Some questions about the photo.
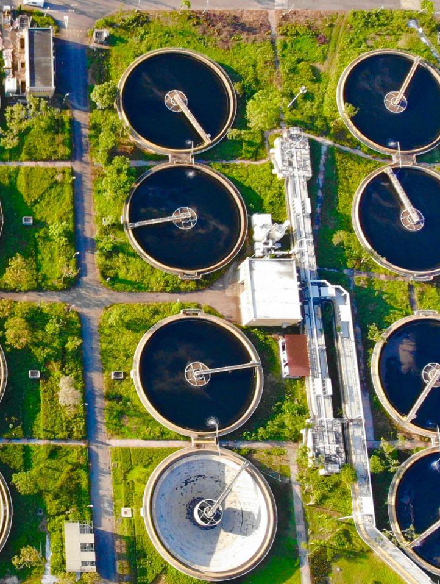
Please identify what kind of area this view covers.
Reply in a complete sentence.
This image shows an industrial area.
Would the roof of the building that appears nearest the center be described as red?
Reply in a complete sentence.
No, the color of the roof of the building that appears nearest the center is white.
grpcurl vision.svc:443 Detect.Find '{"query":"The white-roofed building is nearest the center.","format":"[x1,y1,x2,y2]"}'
[235,258,304,328]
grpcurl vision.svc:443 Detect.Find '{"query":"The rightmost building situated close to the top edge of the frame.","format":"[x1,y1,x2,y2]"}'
[15,27,56,98]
